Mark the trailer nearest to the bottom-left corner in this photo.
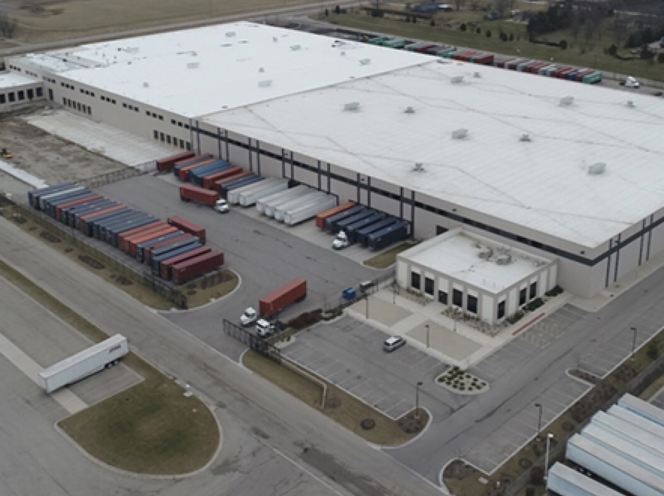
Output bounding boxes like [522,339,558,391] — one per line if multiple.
[36,335,132,391]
